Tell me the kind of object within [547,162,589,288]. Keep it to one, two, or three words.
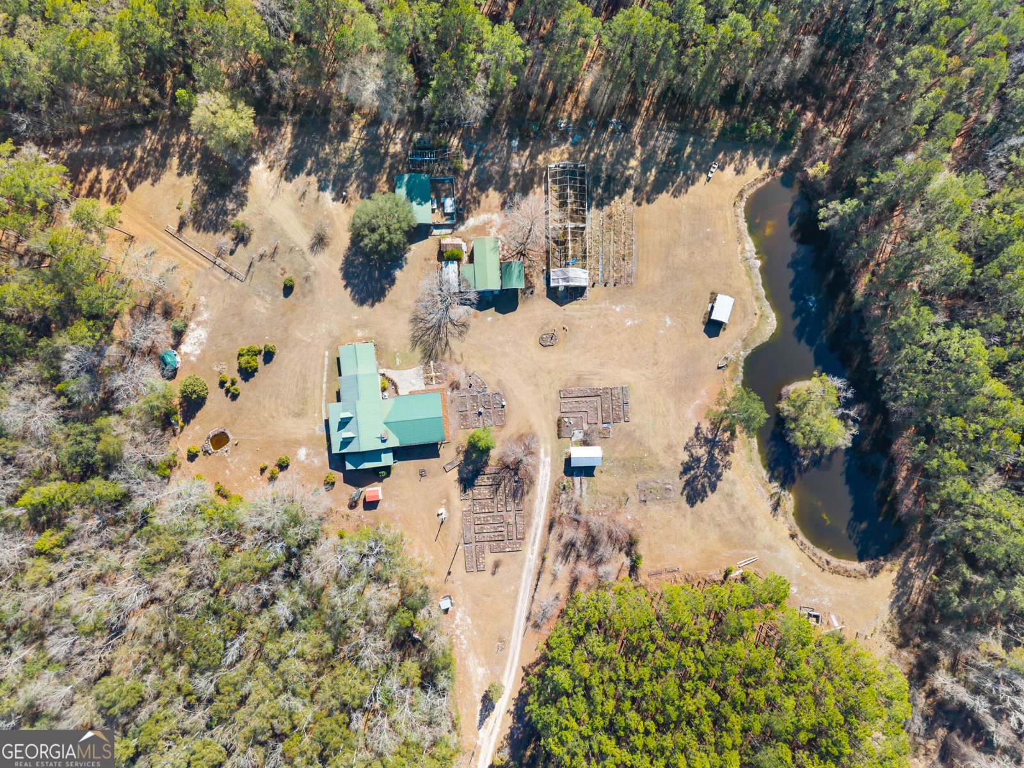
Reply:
greenhouse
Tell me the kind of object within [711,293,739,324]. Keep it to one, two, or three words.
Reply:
shed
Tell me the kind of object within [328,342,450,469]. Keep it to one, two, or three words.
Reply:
house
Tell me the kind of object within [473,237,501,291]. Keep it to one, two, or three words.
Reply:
shed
